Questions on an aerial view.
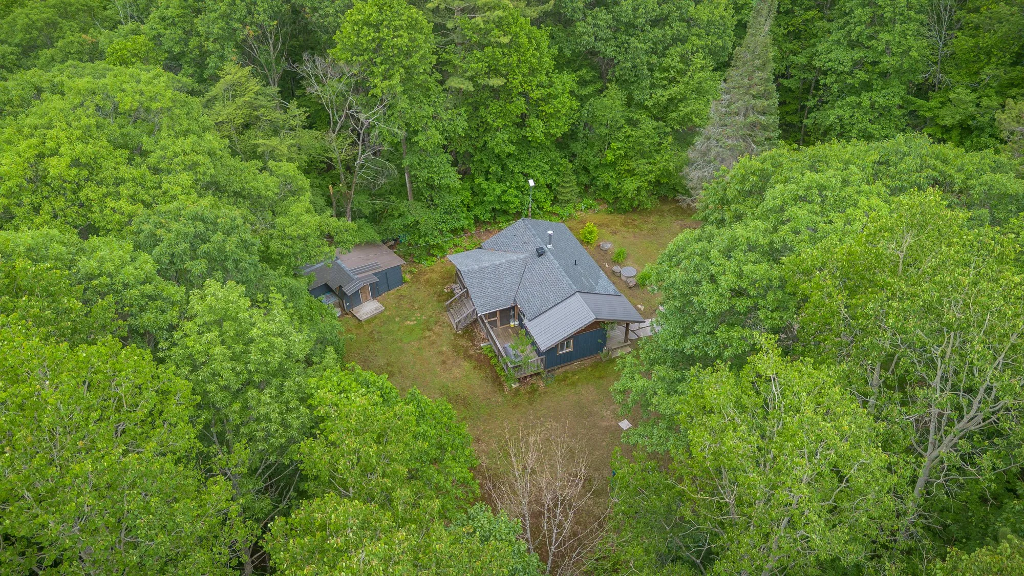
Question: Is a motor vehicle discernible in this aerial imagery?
No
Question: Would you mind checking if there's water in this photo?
No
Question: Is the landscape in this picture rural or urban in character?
rural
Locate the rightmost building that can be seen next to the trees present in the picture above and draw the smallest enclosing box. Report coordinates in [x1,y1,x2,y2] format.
[444,218,646,385]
